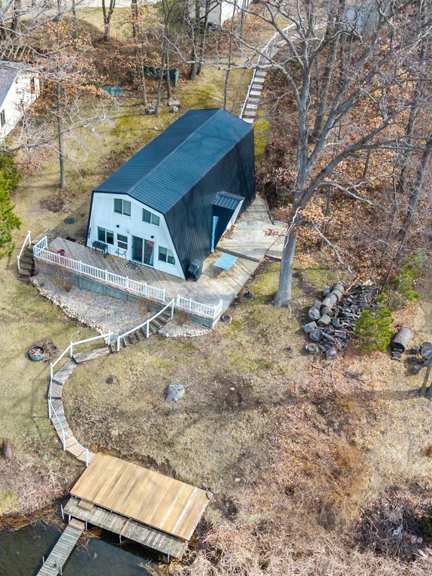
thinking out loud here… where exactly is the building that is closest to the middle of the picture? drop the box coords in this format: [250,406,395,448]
[81,104,266,282]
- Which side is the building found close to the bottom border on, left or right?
left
